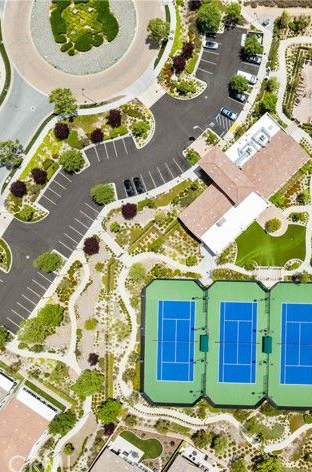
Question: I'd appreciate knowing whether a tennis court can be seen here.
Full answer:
Yes, the picture does show a tennis court.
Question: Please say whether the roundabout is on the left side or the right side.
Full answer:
The roundabout appears in the left half of the scene.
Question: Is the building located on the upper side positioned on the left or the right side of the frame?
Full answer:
The building located on the upper side sits on the right side.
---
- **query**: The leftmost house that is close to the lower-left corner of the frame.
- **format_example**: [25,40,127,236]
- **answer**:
[0,366,22,414]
